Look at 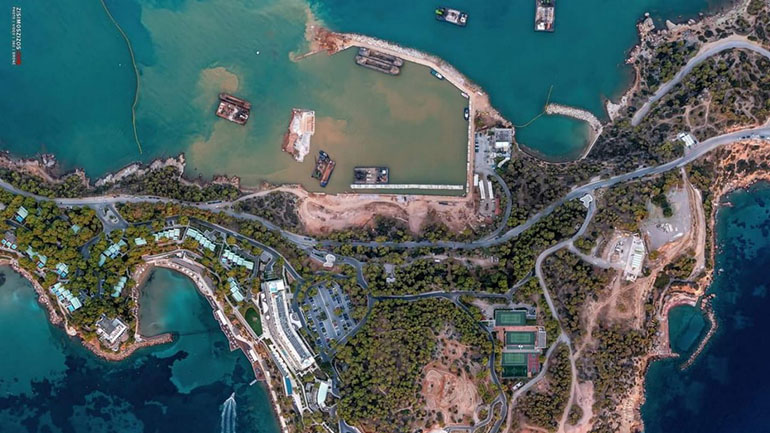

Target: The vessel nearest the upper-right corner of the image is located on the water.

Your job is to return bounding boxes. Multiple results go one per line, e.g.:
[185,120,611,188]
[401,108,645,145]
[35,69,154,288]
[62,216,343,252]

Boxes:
[535,0,555,31]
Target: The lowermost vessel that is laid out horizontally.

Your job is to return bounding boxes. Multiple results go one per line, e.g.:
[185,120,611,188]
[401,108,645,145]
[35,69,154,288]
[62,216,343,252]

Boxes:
[355,168,389,183]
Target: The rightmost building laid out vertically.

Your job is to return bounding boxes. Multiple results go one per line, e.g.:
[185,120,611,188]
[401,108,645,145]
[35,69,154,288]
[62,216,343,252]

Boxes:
[624,236,646,278]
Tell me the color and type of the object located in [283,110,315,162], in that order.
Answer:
white ship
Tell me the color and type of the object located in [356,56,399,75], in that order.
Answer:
gray ship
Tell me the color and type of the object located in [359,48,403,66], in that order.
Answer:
gray ship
